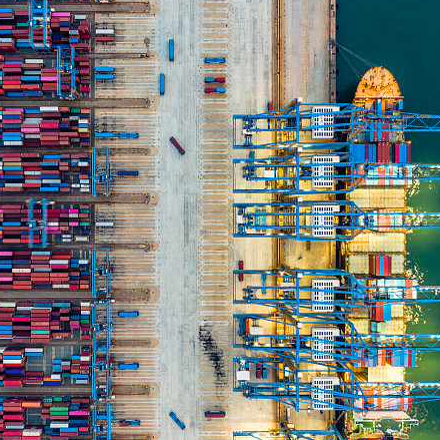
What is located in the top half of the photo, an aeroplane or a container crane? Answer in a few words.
container crane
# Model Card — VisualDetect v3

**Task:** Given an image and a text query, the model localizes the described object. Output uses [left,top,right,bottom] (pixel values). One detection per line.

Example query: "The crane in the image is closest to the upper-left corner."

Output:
[23,0,55,54]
